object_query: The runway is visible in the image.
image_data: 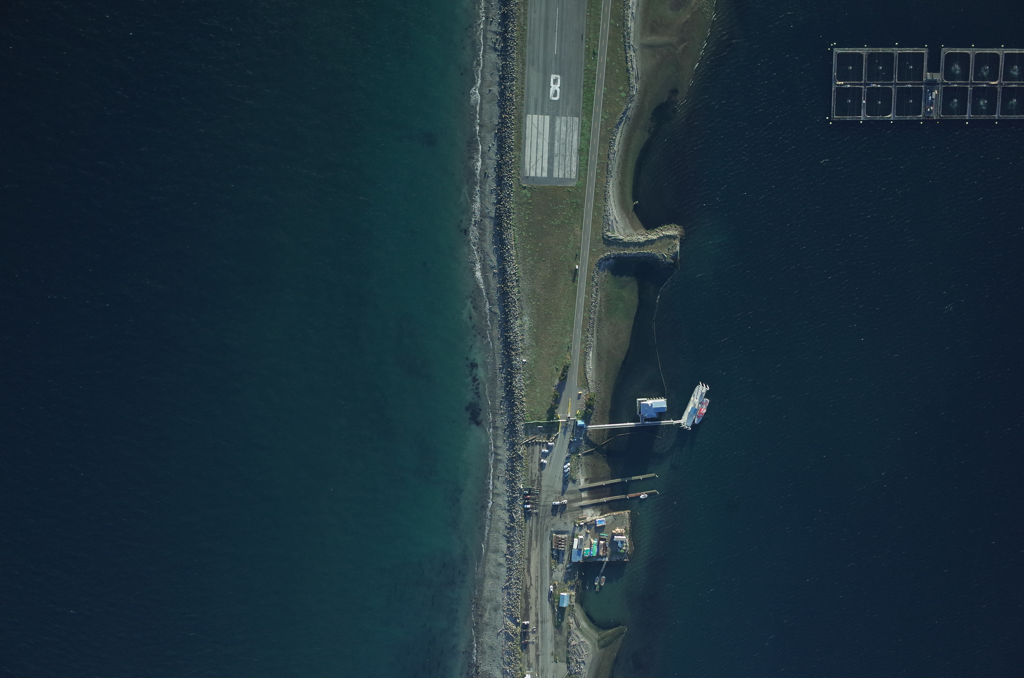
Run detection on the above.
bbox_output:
[521,0,587,186]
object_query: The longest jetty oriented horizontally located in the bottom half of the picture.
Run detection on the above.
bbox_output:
[585,419,675,431]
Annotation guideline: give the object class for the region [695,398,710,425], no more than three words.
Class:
boat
